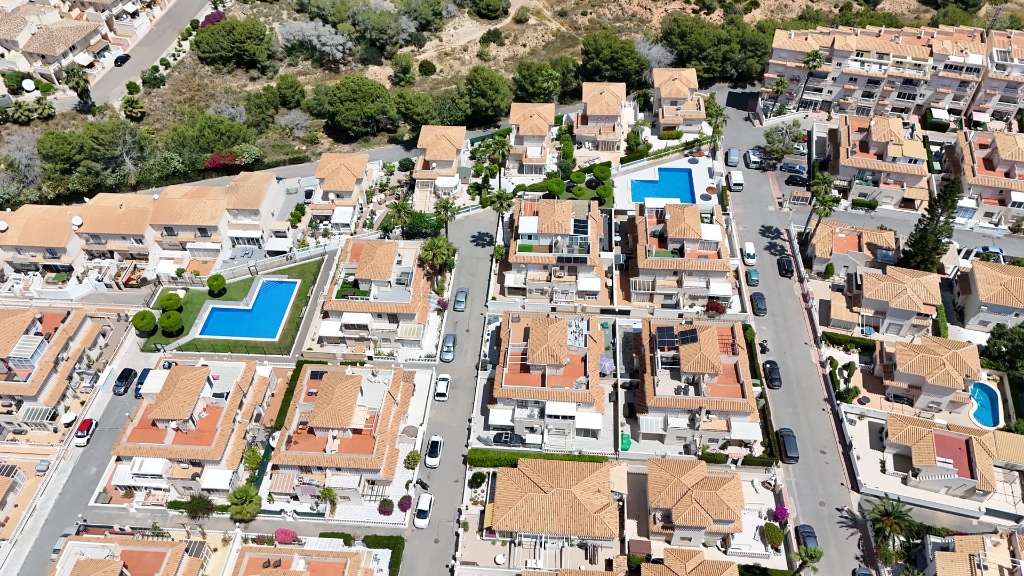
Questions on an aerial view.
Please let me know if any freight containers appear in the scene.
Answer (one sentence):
No, I can't see a single freight container in this photo.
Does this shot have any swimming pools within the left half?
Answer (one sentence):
Yes, the scene does show a swimming pool within the left half.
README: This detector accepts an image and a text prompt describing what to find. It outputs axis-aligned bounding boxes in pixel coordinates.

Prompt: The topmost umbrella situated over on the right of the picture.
[690,150,708,165]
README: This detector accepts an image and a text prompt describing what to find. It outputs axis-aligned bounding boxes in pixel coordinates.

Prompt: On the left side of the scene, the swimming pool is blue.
[193,272,303,344]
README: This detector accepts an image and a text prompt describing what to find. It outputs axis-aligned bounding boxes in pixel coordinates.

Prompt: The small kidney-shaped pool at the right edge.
[968,378,1011,432]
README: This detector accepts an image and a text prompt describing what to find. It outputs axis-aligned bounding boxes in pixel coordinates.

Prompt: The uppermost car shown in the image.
[110,54,134,68]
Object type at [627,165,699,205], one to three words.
swimming pool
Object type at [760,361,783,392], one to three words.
car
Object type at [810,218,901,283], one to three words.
house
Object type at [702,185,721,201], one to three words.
umbrella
